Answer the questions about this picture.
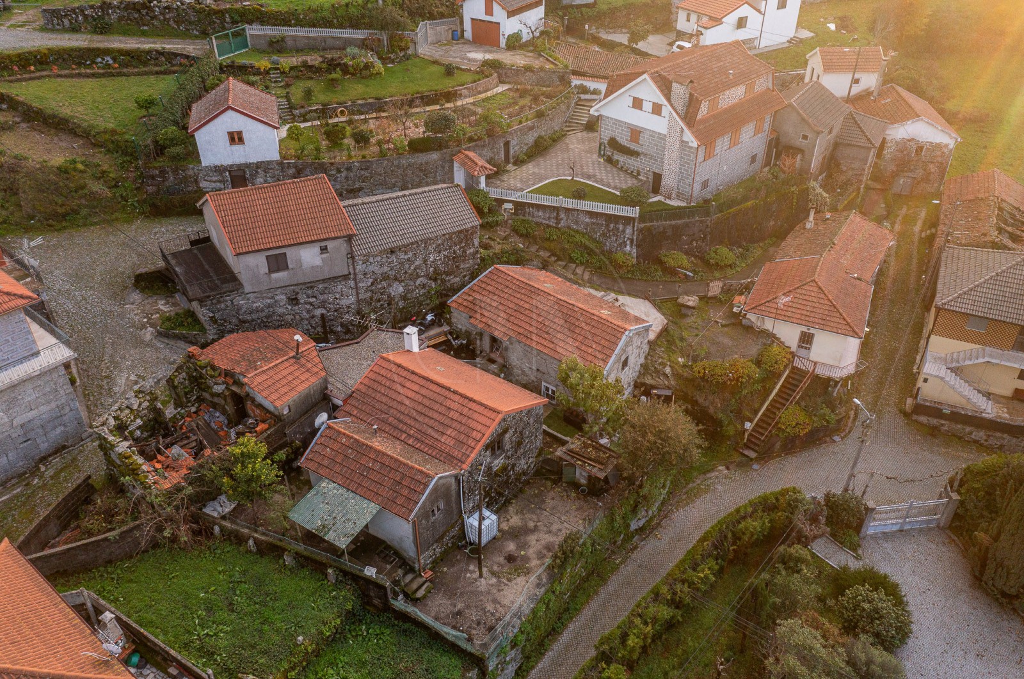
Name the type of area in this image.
residential area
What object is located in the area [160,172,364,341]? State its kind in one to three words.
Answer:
house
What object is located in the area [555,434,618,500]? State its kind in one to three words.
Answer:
shed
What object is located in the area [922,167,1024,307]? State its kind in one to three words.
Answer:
house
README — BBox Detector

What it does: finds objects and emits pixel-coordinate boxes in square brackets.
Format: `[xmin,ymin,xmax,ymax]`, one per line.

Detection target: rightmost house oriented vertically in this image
[916,190,1024,414]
